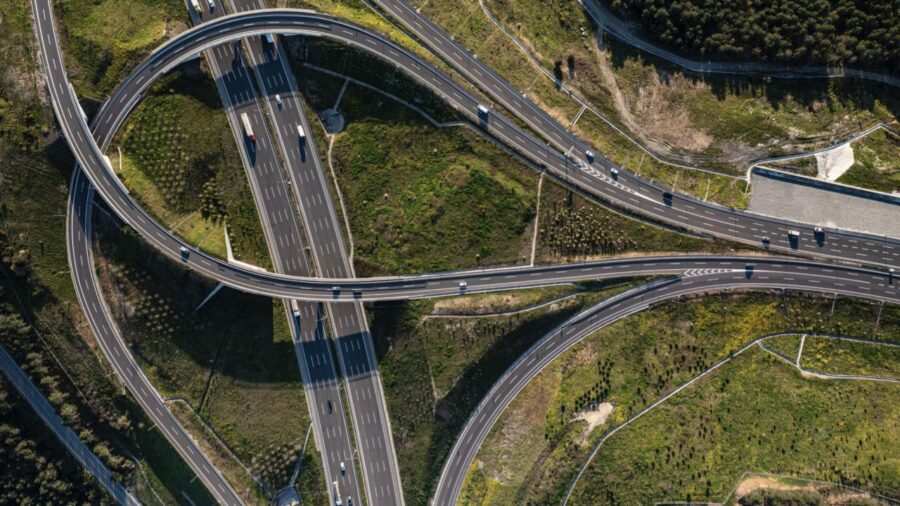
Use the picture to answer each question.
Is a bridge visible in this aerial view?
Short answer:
Yes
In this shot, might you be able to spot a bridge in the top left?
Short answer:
Yes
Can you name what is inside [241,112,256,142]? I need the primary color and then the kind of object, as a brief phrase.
white vehicle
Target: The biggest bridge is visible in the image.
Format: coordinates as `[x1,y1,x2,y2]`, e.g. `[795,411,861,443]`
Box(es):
[142,5,339,71]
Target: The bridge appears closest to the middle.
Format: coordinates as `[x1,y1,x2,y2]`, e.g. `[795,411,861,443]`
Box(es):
[237,264,427,304]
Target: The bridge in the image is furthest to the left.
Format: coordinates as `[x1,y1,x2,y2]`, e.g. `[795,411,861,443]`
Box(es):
[48,82,136,209]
